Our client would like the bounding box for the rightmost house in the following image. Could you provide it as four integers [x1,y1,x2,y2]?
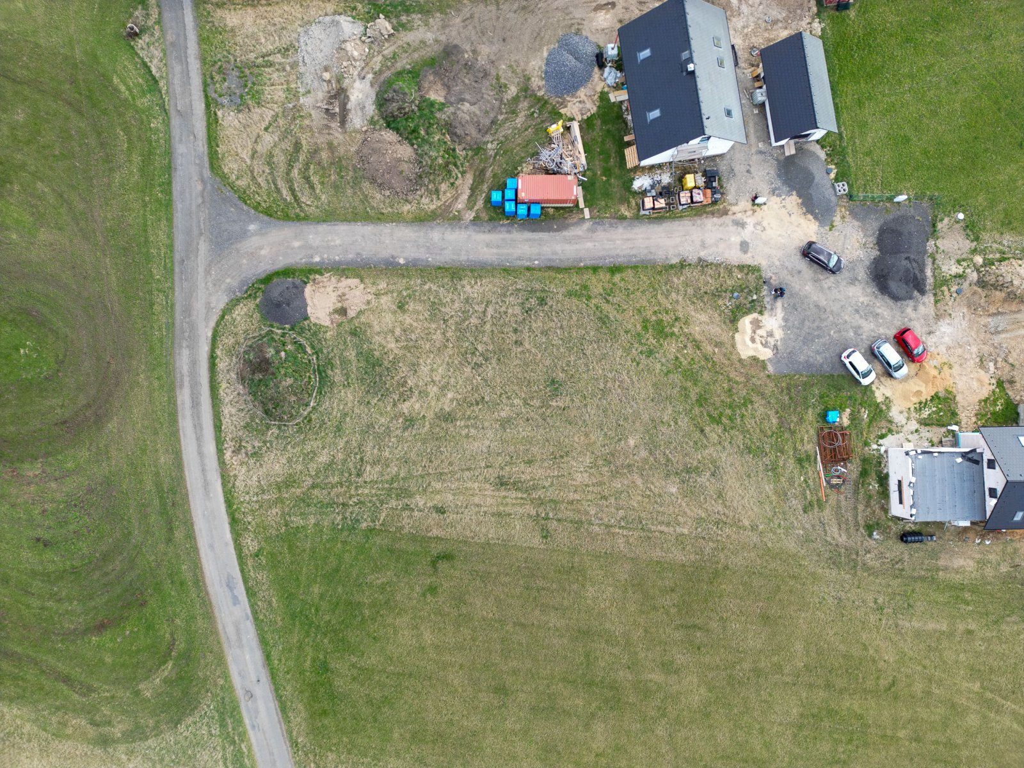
[955,425,1024,531]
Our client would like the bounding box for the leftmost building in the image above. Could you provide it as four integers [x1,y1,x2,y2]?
[611,0,748,168]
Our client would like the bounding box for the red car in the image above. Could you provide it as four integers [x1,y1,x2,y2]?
[894,326,927,363]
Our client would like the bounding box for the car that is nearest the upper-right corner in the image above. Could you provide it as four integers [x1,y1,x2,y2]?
[802,239,845,274]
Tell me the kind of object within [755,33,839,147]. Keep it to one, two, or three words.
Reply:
building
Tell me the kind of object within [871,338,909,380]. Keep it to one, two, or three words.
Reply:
car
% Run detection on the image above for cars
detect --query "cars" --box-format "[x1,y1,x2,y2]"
[841,347,876,386]
[802,239,845,274]
[894,326,927,363]
[871,338,909,380]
